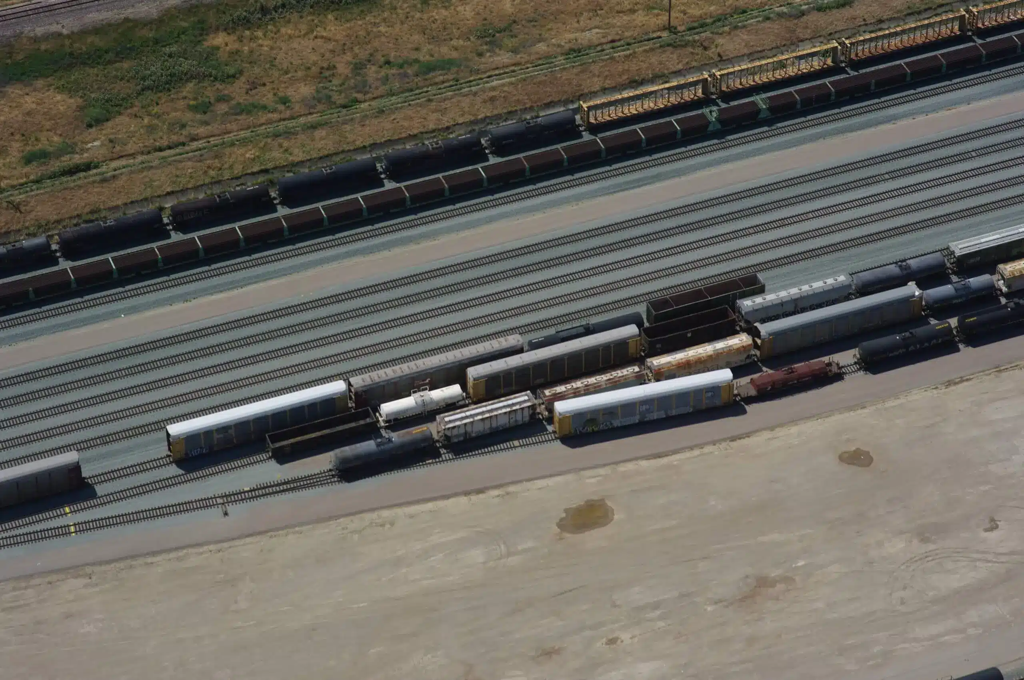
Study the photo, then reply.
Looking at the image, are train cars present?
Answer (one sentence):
Yes, the frame does contain a train car.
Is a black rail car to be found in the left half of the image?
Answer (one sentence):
Yes, looking in the left half of the image, one can make out a black rail car.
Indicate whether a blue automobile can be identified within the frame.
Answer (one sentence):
No, there is no blue automobile in the image.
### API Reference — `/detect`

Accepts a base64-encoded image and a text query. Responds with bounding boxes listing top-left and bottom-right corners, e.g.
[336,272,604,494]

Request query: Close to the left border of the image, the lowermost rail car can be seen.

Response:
[12,257,137,306]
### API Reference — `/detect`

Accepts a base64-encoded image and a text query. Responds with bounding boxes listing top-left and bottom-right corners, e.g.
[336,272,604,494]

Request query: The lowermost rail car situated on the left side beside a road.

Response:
[330,426,440,476]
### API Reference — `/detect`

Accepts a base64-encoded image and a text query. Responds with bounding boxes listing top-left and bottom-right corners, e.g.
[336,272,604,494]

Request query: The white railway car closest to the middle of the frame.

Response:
[375,384,468,428]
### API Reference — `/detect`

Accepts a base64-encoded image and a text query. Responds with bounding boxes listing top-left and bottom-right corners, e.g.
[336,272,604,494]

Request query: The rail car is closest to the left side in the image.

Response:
[0,238,58,268]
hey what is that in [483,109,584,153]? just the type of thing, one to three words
rail car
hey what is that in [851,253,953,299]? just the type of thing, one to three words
rail car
